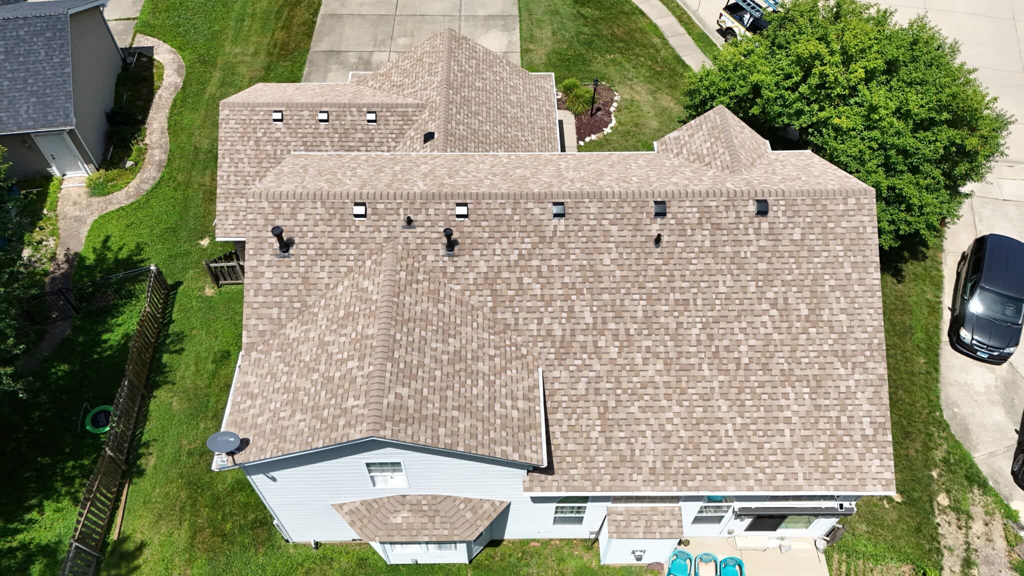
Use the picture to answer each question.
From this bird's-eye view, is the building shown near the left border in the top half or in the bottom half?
top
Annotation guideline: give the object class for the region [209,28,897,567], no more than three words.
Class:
house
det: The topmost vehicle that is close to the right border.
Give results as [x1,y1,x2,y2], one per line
[948,238,1024,369]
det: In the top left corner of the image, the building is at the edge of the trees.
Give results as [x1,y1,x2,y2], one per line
[0,4,124,180]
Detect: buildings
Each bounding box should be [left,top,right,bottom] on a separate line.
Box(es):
[209,28,897,567]
[0,4,124,180]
